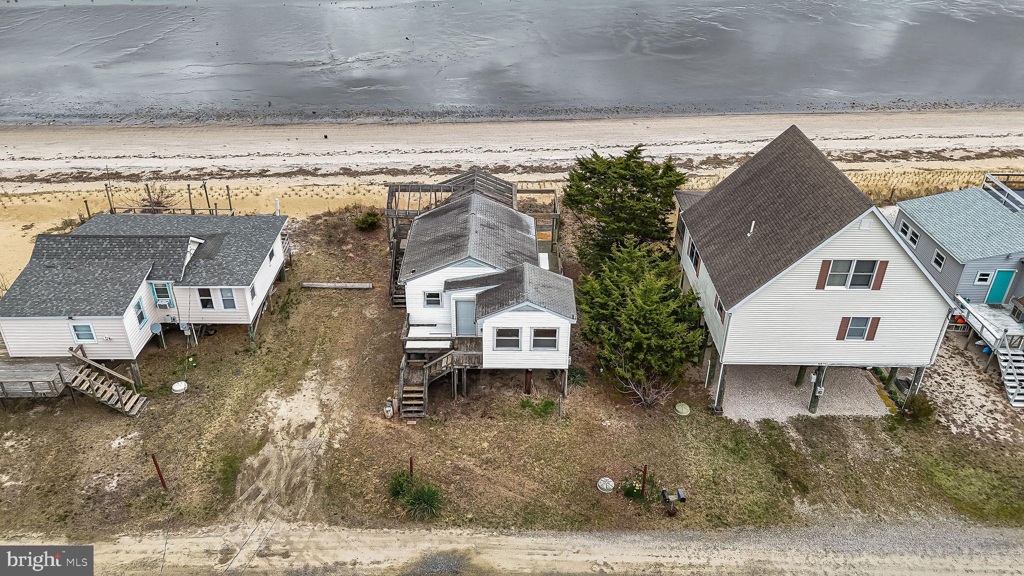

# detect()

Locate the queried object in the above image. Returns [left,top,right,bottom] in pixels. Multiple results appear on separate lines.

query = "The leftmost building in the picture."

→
[0,216,306,383]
